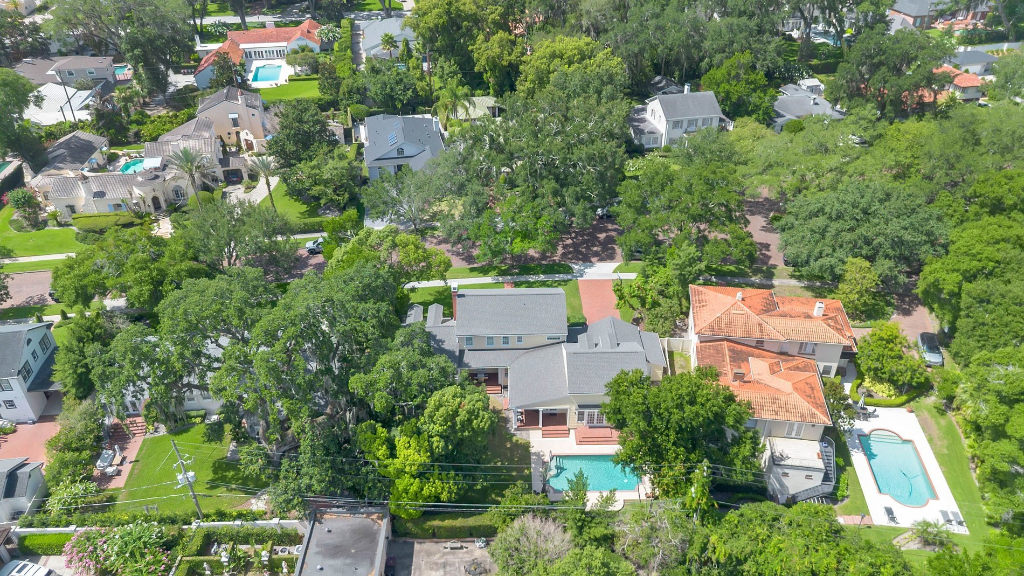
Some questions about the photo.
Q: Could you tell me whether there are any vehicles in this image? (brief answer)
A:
Yes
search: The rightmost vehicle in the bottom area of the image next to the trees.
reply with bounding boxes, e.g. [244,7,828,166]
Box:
[919,331,947,367]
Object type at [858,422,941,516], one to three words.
swimming pool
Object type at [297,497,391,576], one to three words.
building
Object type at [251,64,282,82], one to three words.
swimming pool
